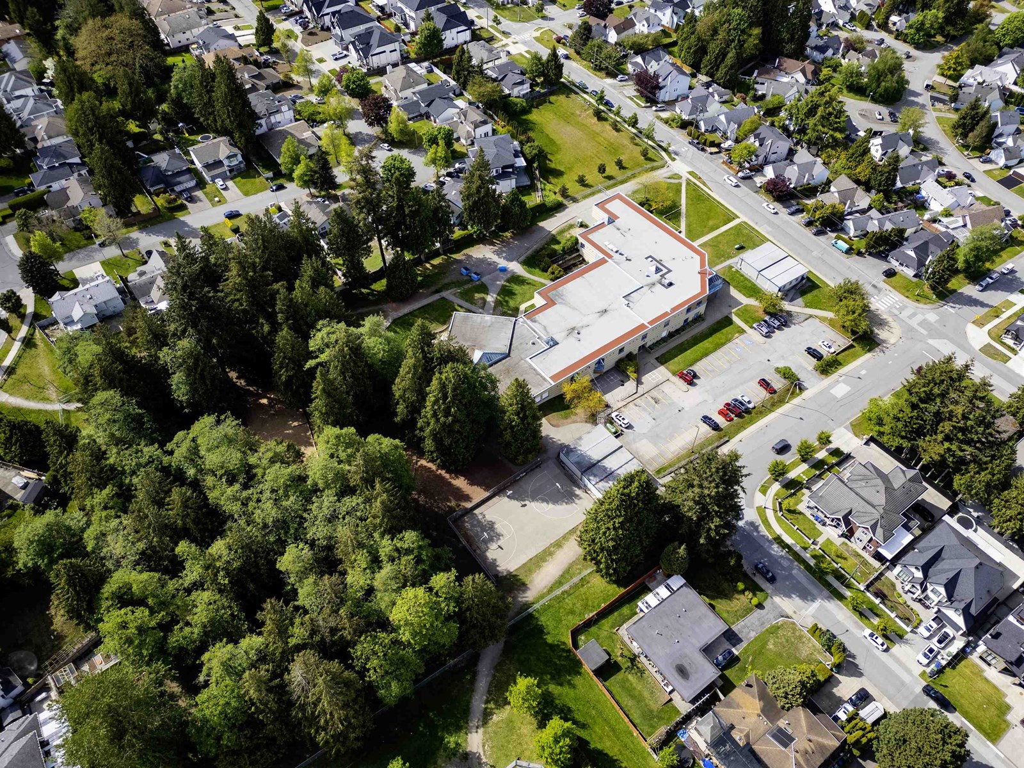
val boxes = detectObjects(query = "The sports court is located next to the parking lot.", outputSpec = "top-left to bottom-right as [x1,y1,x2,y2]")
[449,457,597,579]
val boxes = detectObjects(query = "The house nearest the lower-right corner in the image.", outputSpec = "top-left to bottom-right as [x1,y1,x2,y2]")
[970,597,1024,683]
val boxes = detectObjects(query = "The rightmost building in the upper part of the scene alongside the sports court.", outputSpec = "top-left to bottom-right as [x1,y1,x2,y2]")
[516,192,723,404]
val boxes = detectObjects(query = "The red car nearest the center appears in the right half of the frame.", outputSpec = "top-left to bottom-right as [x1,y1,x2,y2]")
[676,370,696,386]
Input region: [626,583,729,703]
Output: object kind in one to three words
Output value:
house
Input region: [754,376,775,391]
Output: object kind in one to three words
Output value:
car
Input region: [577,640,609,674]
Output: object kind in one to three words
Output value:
shed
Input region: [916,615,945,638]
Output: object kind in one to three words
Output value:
truck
